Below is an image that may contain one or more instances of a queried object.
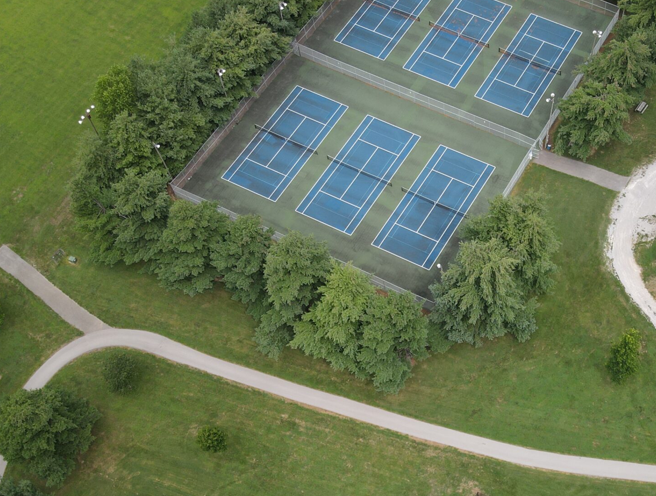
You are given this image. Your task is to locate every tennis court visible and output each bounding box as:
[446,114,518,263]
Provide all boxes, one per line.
[296,115,420,235]
[372,144,495,270]
[476,14,582,117]
[222,86,348,202]
[403,0,512,89]
[335,0,430,60]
